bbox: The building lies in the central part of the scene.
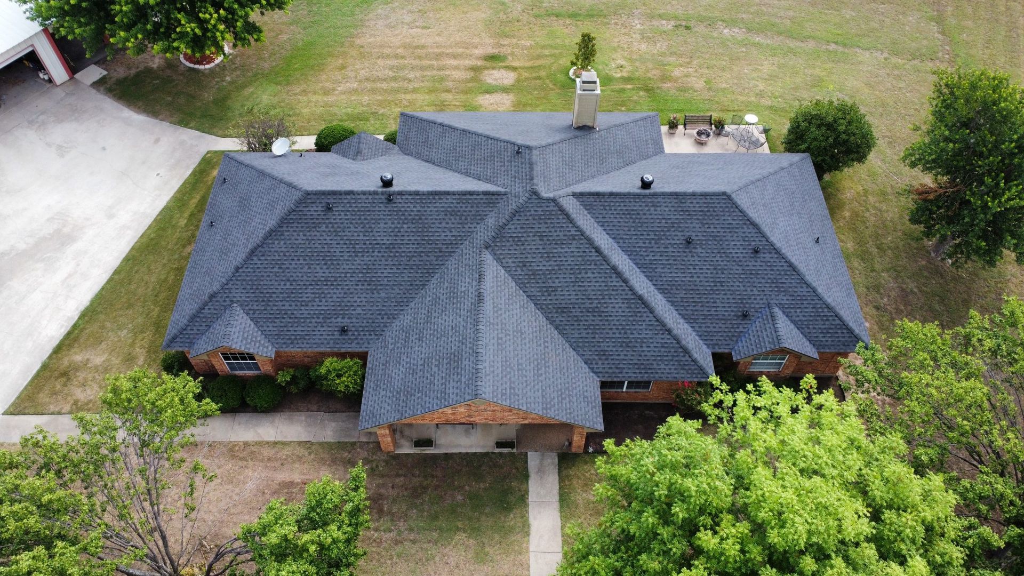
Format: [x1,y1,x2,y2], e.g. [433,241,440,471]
[160,71,872,453]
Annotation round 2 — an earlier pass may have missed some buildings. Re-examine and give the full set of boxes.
[0,0,75,120]
[160,71,872,453]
